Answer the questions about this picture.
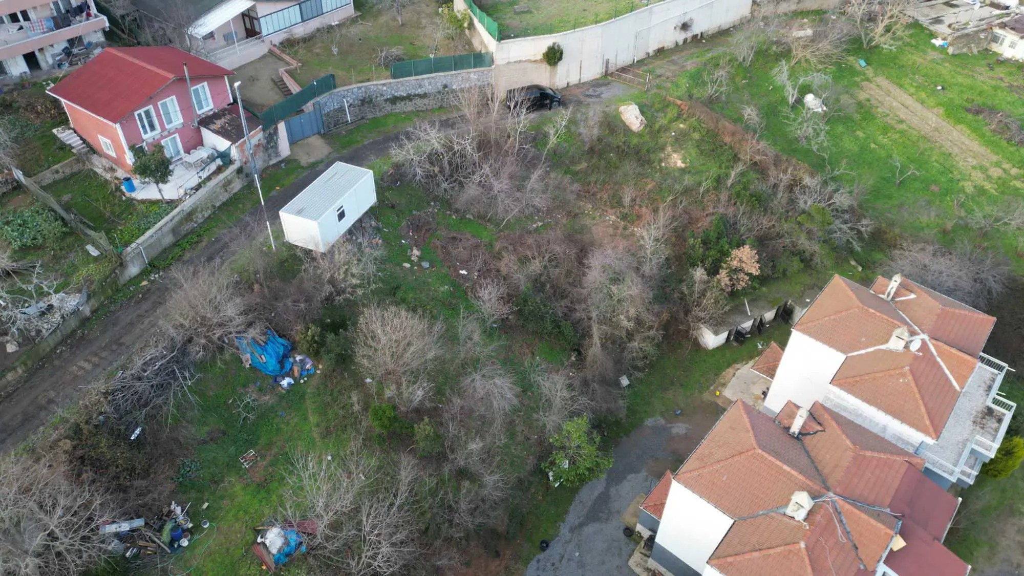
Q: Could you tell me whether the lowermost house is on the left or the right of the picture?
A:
right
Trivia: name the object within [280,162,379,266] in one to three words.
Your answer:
building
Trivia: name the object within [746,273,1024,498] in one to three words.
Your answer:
house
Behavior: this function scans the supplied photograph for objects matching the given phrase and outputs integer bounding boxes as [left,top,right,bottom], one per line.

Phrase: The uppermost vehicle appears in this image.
[507,82,564,112]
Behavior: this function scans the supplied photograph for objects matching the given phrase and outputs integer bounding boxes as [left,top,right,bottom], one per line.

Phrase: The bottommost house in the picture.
[637,396,971,576]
